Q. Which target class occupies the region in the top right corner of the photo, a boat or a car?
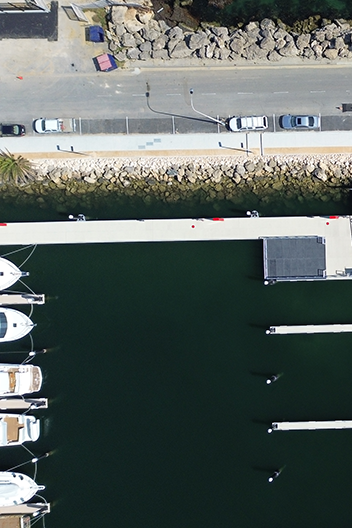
car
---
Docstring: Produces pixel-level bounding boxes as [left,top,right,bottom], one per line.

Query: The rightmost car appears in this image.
[282,113,321,131]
